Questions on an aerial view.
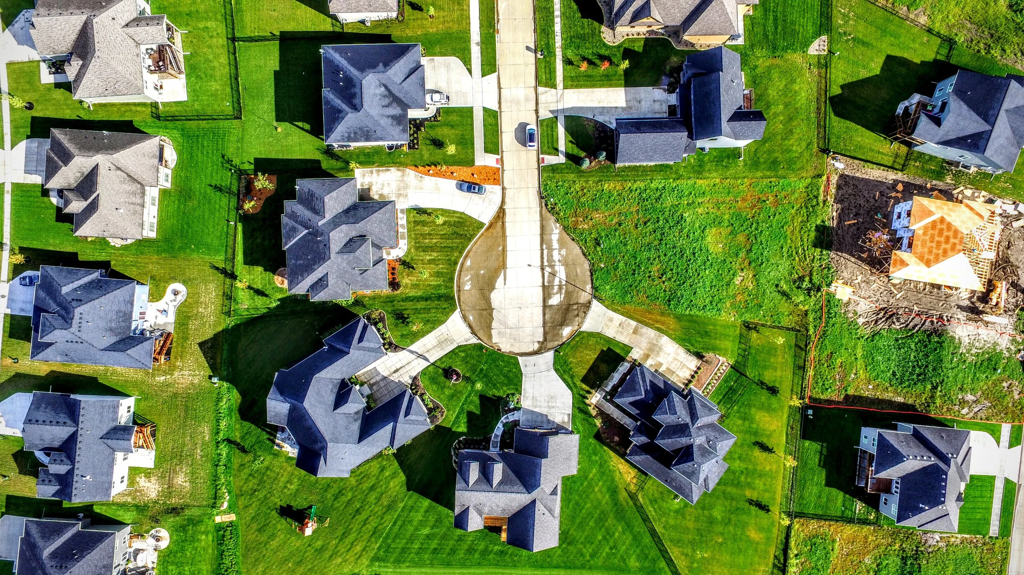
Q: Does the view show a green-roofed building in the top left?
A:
No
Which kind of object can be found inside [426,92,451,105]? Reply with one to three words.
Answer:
vehicle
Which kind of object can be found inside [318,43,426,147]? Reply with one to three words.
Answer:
house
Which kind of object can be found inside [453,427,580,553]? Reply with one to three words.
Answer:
house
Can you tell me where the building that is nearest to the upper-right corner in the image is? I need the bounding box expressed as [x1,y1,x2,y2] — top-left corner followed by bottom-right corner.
[894,72,1024,176]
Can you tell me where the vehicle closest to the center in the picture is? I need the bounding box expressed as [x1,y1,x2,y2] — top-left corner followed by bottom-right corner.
[458,181,485,195]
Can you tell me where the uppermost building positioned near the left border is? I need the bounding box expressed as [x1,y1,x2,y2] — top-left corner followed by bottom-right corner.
[27,0,190,112]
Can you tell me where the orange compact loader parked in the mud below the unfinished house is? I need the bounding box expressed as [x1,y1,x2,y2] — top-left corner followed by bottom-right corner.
[986,284,1006,311]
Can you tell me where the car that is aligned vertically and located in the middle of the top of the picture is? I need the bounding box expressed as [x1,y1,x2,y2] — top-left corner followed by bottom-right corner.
[526,125,538,150]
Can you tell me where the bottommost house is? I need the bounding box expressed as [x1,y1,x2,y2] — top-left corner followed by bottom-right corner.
[17,502,129,575]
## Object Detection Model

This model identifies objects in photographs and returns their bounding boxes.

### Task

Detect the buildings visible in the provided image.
[613,364,737,506]
[614,48,766,165]
[874,195,1002,292]
[318,43,426,147]
[43,127,171,240]
[19,380,158,503]
[30,258,172,370]
[27,0,190,112]
[281,177,399,301]
[855,417,972,533]
[614,0,759,40]
[894,72,1024,176]
[17,502,129,575]
[264,317,431,478]
[329,0,399,20]
[453,427,580,553]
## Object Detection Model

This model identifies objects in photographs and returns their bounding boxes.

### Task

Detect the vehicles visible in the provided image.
[526,125,538,150]
[986,284,1006,311]
[426,92,451,105]
[15,274,34,286]
[458,181,485,195]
